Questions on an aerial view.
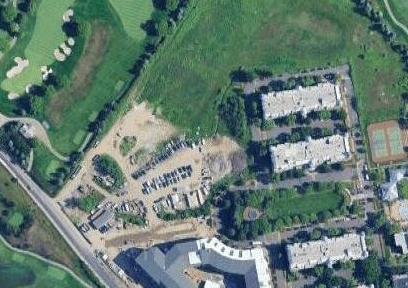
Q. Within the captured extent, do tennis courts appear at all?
Yes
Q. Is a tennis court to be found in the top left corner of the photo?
No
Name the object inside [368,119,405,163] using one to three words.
tennis court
